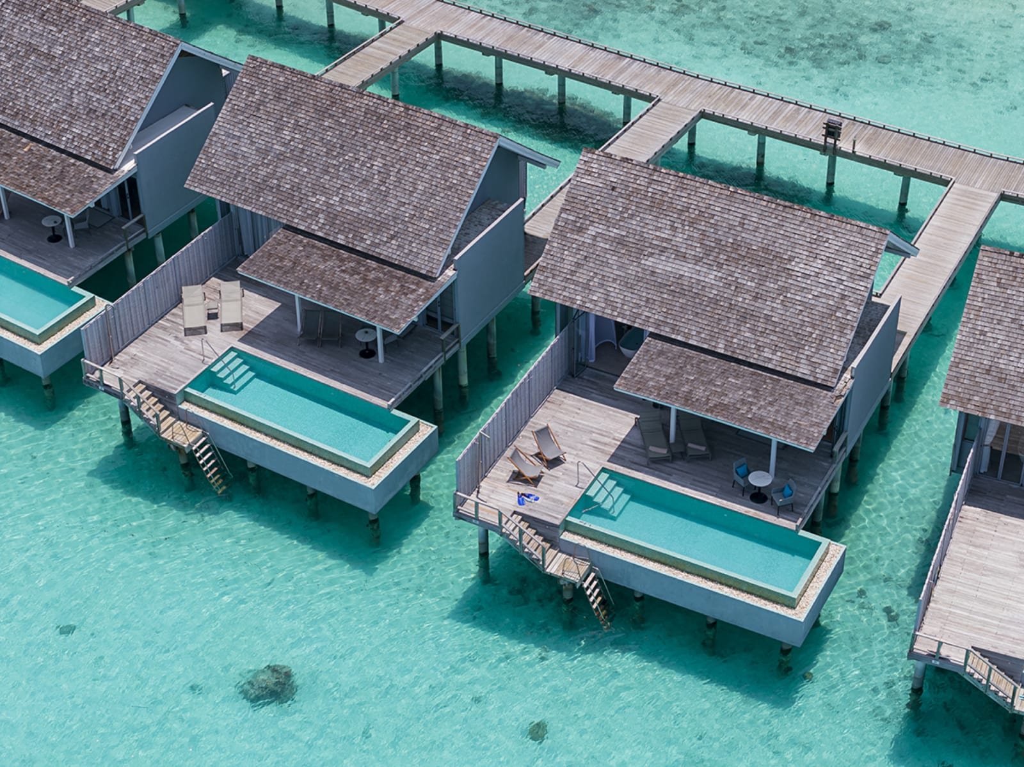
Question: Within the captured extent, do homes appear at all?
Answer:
Yes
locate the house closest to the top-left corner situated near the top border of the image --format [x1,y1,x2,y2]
[0,0,238,294]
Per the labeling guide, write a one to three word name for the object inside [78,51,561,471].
house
